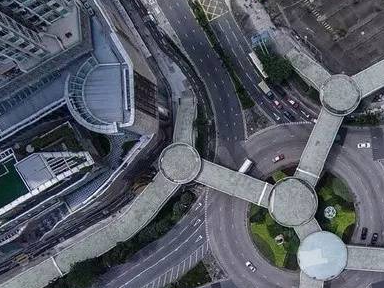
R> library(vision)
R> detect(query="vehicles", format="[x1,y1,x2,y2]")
[257,80,275,101]
[273,154,285,162]
[288,98,300,109]
[238,155,258,174]
[245,261,256,271]
[283,111,294,122]
[361,227,367,240]
[246,51,270,81]
[371,232,377,244]
[359,142,371,148]
[271,98,283,109]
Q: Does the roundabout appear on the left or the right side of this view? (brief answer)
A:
right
